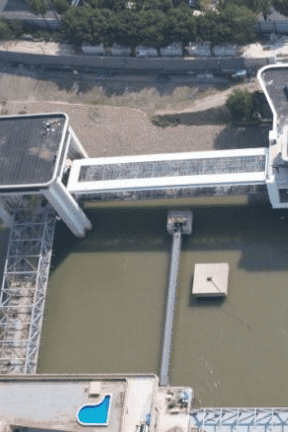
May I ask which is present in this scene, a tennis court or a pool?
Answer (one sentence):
The image shows a pool.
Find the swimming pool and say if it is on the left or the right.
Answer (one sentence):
The swimming pool sits on the left side.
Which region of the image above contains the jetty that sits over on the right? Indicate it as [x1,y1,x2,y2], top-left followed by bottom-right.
[167,212,195,237]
